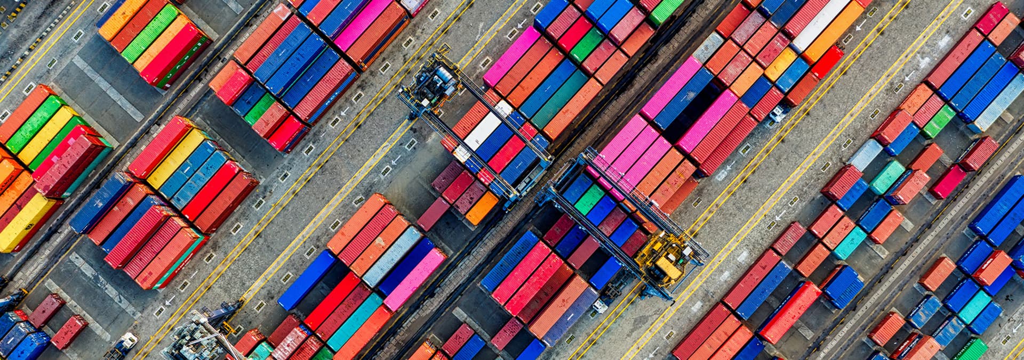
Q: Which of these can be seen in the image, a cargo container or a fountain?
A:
cargo container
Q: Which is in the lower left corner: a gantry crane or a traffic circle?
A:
gantry crane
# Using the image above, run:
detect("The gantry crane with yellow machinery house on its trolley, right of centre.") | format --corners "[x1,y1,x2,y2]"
[535,144,710,306]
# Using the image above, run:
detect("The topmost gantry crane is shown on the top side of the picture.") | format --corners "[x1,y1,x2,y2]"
[393,41,564,215]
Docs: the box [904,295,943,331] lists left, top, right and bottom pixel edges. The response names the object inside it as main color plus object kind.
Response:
blue shipping container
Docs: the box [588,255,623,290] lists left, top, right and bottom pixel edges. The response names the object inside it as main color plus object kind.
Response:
blue shipping container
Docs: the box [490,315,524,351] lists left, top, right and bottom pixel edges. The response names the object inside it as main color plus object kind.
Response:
red shipping container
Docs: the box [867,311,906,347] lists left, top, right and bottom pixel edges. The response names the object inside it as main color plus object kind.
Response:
red shipping container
